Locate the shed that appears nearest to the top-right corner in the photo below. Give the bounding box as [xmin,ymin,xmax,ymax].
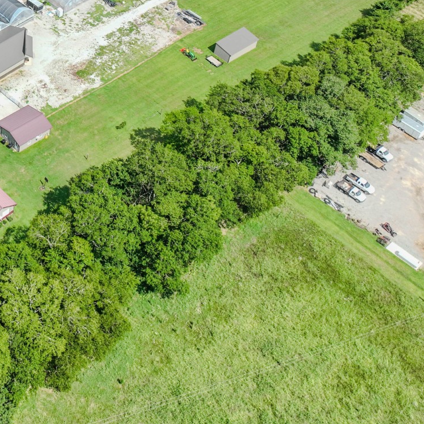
[213,25,259,63]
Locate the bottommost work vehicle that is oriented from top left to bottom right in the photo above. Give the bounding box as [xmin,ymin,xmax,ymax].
[381,220,400,239]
